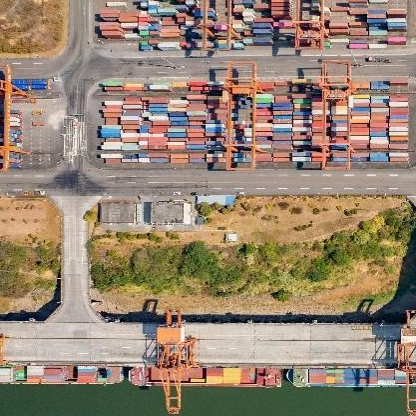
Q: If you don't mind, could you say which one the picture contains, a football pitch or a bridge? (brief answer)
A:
bridge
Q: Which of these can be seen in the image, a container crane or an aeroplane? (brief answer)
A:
container crane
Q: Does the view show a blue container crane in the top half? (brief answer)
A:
No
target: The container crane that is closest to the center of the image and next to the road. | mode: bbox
[222,61,269,172]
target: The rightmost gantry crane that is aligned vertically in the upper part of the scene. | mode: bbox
[318,60,358,172]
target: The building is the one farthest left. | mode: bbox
[99,202,136,223]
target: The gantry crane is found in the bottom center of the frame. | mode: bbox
[157,308,205,416]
